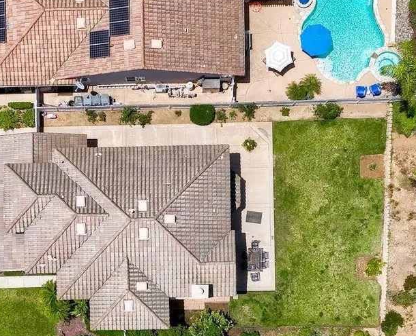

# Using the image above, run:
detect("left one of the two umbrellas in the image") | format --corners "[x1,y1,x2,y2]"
[265,43,291,73]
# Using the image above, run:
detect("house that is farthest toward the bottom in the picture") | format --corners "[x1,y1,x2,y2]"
[0,132,241,332]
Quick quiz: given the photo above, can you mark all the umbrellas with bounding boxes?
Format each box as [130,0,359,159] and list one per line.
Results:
[300,26,332,59]
[265,43,291,73]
